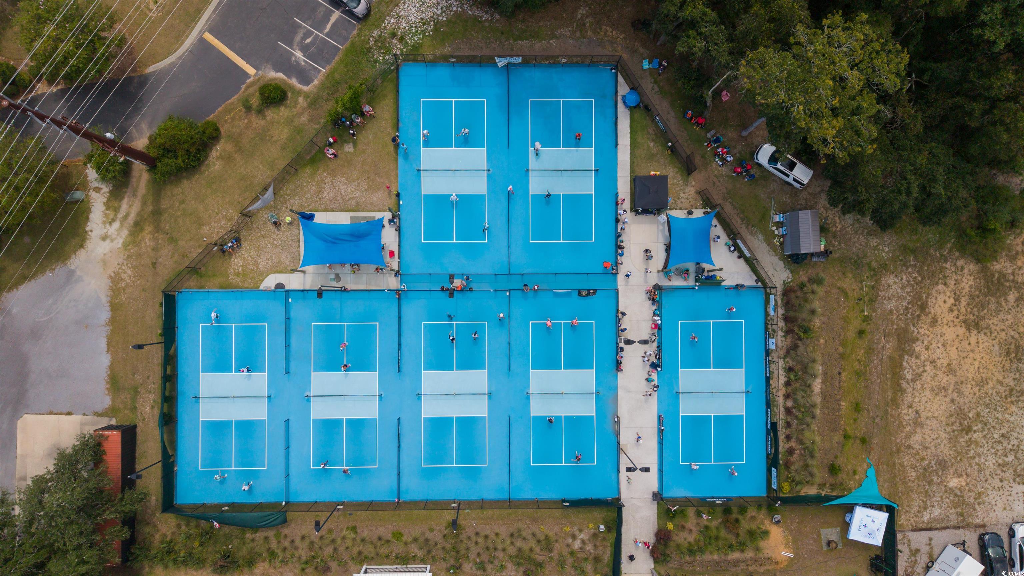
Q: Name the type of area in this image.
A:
sports ground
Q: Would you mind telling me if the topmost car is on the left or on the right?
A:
left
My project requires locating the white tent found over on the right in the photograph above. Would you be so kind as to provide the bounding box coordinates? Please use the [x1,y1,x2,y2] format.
[837,504,889,546]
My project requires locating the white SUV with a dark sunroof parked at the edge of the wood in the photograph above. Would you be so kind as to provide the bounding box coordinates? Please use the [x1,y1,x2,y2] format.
[754,143,813,188]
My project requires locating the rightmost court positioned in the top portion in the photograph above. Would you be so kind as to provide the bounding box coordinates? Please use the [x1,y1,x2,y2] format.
[509,66,618,273]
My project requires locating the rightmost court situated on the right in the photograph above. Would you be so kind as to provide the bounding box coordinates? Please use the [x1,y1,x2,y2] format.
[658,286,766,497]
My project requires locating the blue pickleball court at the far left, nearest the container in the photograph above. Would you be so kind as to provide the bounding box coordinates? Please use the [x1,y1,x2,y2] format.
[175,291,288,503]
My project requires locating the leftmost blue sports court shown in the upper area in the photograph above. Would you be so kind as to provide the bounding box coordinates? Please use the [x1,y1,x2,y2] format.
[399,65,509,273]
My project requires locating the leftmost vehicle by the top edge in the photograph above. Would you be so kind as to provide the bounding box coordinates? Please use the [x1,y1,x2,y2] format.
[331,0,376,23]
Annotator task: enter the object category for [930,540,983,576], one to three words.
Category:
trailer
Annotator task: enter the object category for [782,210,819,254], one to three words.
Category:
shed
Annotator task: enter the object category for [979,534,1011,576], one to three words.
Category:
car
